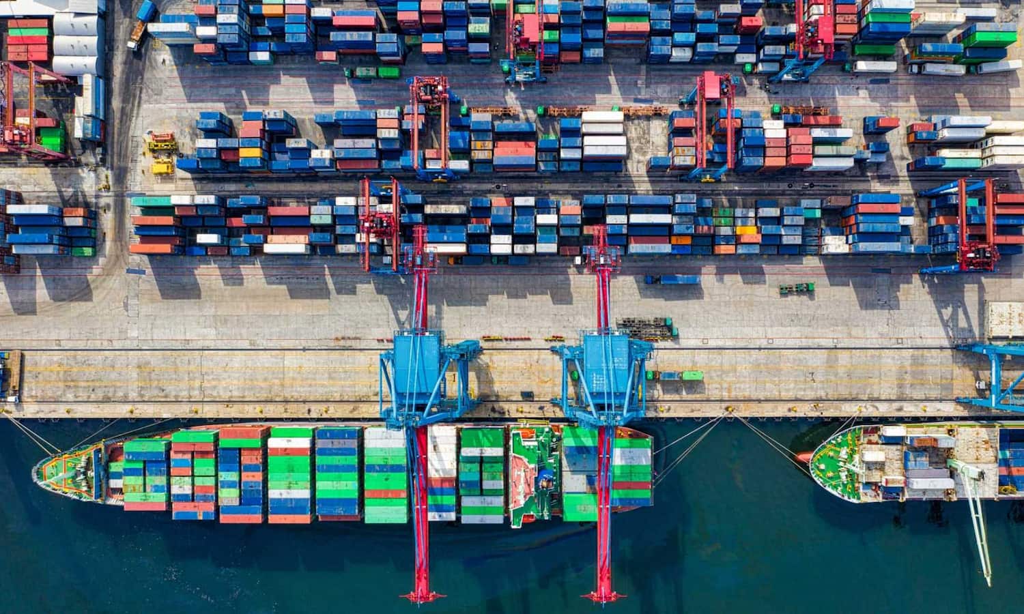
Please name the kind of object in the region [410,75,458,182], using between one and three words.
container crane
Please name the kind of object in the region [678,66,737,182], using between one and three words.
container crane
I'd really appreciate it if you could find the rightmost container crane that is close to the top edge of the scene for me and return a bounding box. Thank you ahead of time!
[768,0,834,80]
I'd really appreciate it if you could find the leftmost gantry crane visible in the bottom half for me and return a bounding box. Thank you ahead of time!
[378,225,490,604]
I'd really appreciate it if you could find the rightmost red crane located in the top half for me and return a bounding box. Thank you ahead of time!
[917,178,997,277]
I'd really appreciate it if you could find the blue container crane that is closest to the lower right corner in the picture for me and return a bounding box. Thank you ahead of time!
[957,348,1024,414]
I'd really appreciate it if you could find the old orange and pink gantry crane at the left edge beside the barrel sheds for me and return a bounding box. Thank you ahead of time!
[0,61,81,159]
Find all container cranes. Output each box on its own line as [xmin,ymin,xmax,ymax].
[544,225,650,604]
[378,225,490,604]
[768,0,834,80]
[917,178,997,277]
[501,0,546,80]
[678,66,737,182]
[0,61,81,159]
[957,348,1024,414]
[410,75,458,182]
[362,178,414,277]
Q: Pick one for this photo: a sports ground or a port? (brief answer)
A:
port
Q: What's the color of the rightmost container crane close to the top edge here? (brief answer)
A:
red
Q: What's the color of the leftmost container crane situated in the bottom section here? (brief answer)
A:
blue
